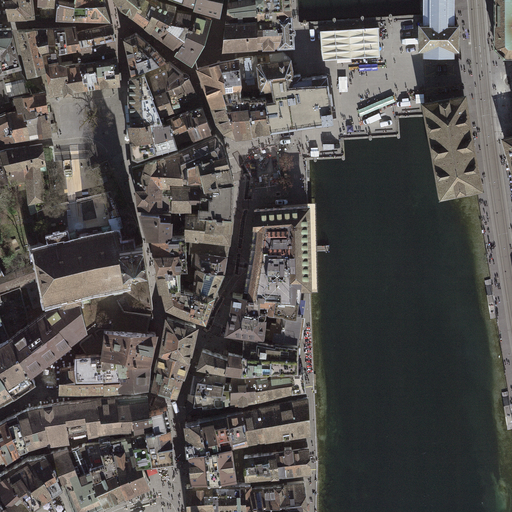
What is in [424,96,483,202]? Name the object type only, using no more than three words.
building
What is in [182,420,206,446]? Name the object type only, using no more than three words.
house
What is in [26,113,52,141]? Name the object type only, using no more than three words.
house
